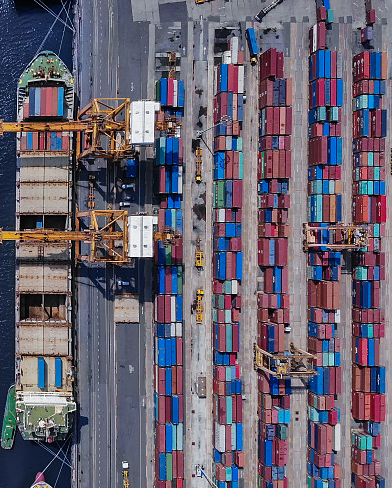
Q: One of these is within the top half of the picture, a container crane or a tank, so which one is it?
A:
container crane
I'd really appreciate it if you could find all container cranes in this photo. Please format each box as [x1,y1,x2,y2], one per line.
[257,344,321,377]
[0,98,182,169]
[305,223,372,251]
[0,205,182,264]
